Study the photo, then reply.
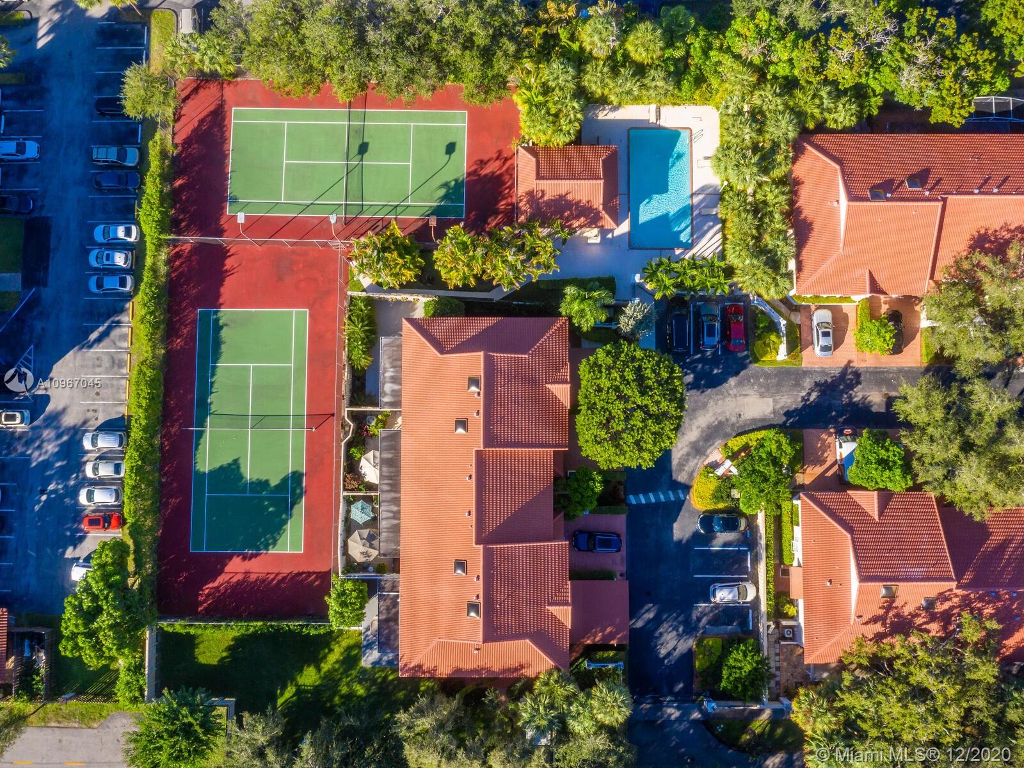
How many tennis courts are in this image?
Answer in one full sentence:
In total, 2 tennis courts can be seen.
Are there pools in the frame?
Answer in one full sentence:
Yes, looking at the shot, I can spot a pool.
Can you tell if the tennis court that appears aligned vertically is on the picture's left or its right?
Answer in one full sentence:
The tennis court that appears aligned vertically is on the left side of the image.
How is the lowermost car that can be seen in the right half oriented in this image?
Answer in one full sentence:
What the image shows is the lowermost car that can be seen in the right half lying from side to side.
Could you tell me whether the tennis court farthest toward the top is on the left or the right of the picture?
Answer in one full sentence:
The tennis court farthest toward the top sits on the left side.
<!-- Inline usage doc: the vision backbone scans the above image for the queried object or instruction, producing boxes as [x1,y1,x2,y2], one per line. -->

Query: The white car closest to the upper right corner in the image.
[810,310,834,357]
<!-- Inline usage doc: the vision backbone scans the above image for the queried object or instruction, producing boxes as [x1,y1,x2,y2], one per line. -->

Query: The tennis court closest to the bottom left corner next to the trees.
[157,246,345,619]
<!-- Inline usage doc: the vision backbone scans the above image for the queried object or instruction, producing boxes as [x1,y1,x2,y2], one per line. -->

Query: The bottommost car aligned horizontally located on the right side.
[709,581,756,604]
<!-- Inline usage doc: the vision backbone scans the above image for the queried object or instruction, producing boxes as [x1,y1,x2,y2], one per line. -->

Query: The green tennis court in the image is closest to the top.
[173,78,517,246]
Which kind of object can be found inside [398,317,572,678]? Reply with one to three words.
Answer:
house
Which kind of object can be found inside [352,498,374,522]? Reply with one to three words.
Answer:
umbrella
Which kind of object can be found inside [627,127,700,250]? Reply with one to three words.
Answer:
swimming pool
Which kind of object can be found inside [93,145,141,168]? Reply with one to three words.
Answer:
car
